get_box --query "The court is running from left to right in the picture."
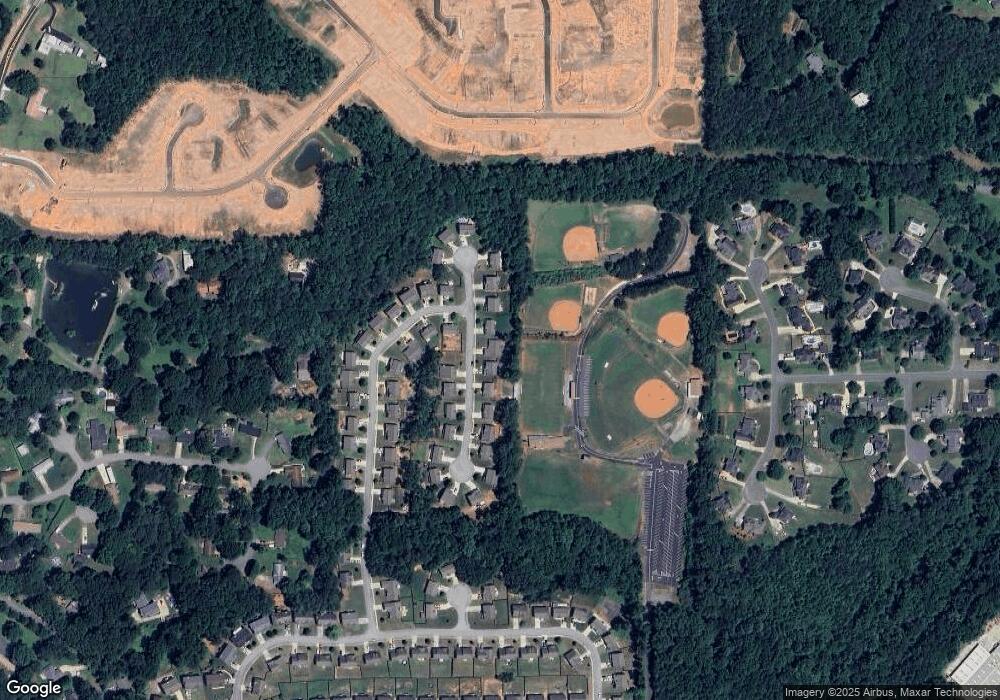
[529,436,566,449]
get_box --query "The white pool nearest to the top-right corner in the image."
[906,221,926,235]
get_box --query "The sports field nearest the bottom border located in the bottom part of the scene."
[518,455,644,535]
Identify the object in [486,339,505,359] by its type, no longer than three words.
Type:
house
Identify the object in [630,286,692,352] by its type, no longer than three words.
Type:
baseball field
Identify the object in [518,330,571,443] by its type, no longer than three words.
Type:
sports field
